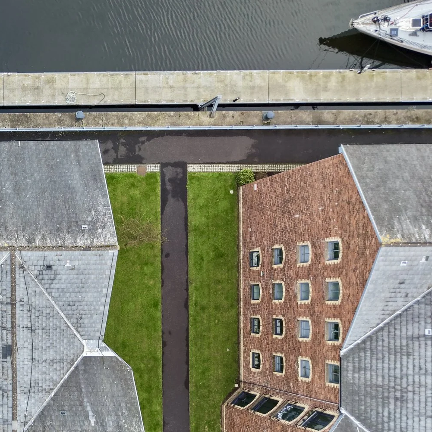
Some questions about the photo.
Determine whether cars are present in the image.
No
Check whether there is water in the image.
Yes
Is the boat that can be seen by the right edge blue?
No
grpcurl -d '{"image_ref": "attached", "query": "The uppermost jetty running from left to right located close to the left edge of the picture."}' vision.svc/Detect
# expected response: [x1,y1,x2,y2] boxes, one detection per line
[2,71,136,105]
